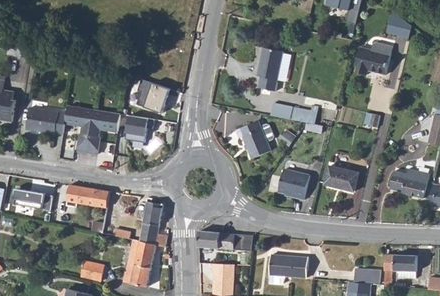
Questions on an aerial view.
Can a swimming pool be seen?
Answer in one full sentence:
No, this view has no swimming pool in it.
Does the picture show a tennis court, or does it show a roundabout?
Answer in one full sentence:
Of the two, only a roundabout appears.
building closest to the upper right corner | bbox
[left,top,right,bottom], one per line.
[386,12,412,39]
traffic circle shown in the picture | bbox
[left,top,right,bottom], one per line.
[167,150,236,216]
